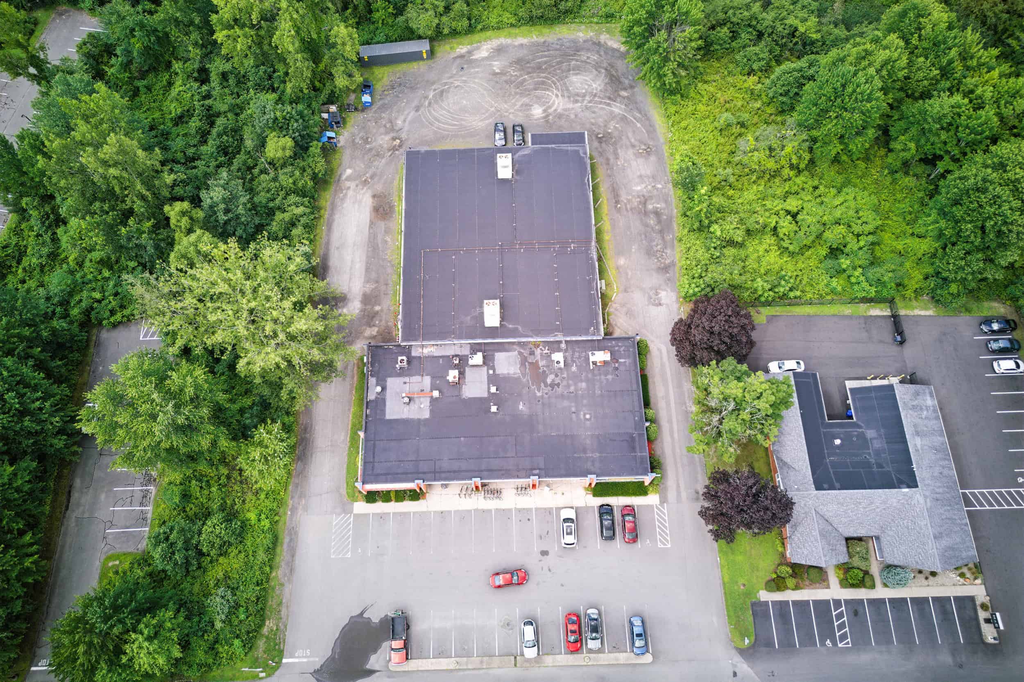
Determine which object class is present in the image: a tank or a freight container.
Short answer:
freight container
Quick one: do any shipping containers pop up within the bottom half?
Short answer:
No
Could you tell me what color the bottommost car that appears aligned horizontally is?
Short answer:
red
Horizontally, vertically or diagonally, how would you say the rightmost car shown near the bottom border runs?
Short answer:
vertically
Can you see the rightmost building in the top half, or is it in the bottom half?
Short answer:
bottom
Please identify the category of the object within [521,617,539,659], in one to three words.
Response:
car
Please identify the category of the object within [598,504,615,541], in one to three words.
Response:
car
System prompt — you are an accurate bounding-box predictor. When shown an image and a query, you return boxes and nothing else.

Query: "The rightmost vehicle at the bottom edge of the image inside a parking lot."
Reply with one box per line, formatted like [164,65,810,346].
[629,615,649,658]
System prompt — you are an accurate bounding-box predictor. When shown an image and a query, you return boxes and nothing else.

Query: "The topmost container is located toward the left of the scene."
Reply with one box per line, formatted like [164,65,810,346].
[359,38,433,67]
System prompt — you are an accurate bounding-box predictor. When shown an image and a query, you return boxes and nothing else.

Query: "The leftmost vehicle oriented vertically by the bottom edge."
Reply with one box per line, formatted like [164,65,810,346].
[388,611,408,665]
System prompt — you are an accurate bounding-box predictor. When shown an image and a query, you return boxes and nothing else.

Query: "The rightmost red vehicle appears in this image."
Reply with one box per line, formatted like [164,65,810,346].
[621,506,638,544]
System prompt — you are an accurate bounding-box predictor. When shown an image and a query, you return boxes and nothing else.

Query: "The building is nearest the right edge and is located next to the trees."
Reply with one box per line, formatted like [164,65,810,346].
[769,370,979,573]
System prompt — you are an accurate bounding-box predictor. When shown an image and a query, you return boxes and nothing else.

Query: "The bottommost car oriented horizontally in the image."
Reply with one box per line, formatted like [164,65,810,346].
[489,569,528,589]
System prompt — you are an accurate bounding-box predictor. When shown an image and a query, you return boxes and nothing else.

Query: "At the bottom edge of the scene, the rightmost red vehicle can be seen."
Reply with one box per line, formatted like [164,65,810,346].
[564,612,583,654]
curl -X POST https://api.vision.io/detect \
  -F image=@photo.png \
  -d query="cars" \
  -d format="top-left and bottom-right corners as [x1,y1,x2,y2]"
[521,617,539,659]
[489,569,528,589]
[629,615,649,658]
[564,612,583,654]
[621,506,638,544]
[560,509,577,548]
[584,608,604,651]
[980,317,1018,333]
[493,119,507,147]
[512,120,525,146]
[768,358,804,373]
[598,504,615,541]
[992,358,1024,374]
[985,337,1021,353]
